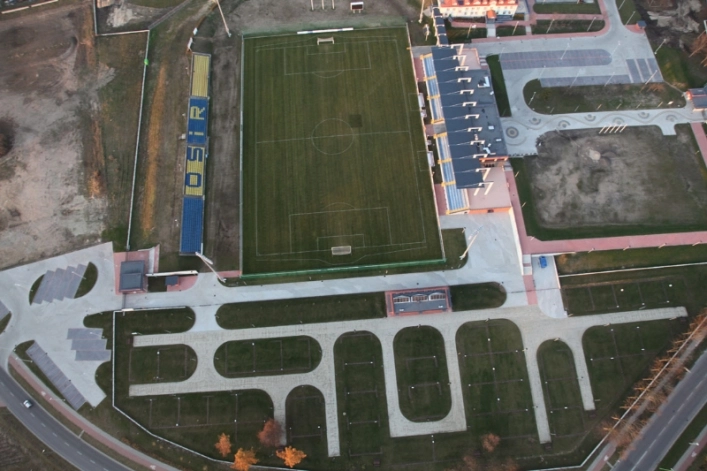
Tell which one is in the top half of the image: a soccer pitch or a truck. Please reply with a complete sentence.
Visible in the top half of the image is a soccer pitch.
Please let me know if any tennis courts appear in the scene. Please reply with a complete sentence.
No, I can't see a single tennis court in this photo.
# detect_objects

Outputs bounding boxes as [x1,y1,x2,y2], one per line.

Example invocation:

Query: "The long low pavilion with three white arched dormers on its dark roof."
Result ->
[389,287,452,317]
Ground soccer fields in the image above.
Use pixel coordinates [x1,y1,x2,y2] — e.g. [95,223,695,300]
[240,25,445,275]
